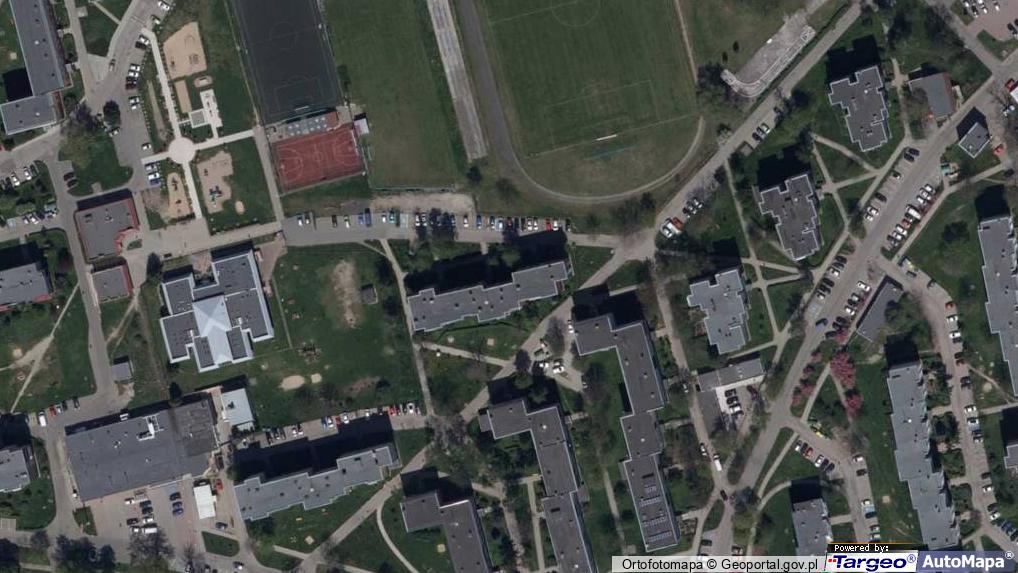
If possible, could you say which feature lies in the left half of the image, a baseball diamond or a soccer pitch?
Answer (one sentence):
Visible in the left half of the image is a soccer pitch.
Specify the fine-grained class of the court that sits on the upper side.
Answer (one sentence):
In the photo, the court that sits on the upper side shows up as a basketball court.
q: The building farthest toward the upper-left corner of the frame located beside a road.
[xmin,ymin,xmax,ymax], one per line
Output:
[0,0,74,135]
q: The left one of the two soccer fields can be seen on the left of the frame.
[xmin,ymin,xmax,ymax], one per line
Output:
[227,0,347,135]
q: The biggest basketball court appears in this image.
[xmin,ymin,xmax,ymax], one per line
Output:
[270,123,366,197]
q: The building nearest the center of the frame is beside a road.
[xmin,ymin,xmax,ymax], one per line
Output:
[408,262,574,333]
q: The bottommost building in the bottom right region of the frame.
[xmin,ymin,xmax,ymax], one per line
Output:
[792,496,839,573]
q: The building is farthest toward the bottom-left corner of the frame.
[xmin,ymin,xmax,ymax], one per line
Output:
[0,445,40,494]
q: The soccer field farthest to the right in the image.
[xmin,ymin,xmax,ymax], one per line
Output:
[477,0,701,198]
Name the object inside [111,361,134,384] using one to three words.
shed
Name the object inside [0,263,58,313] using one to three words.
building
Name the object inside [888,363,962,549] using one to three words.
building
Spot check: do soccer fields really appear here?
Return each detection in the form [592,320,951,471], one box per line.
[477,0,701,198]
[227,0,347,135]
